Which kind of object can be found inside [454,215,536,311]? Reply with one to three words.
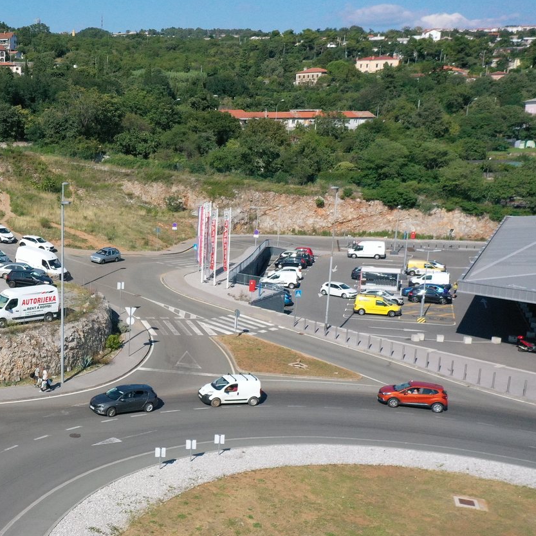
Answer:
building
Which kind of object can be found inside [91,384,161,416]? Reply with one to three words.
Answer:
car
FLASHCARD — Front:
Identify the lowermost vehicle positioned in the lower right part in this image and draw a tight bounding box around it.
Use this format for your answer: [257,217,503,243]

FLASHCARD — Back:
[379,381,452,412]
